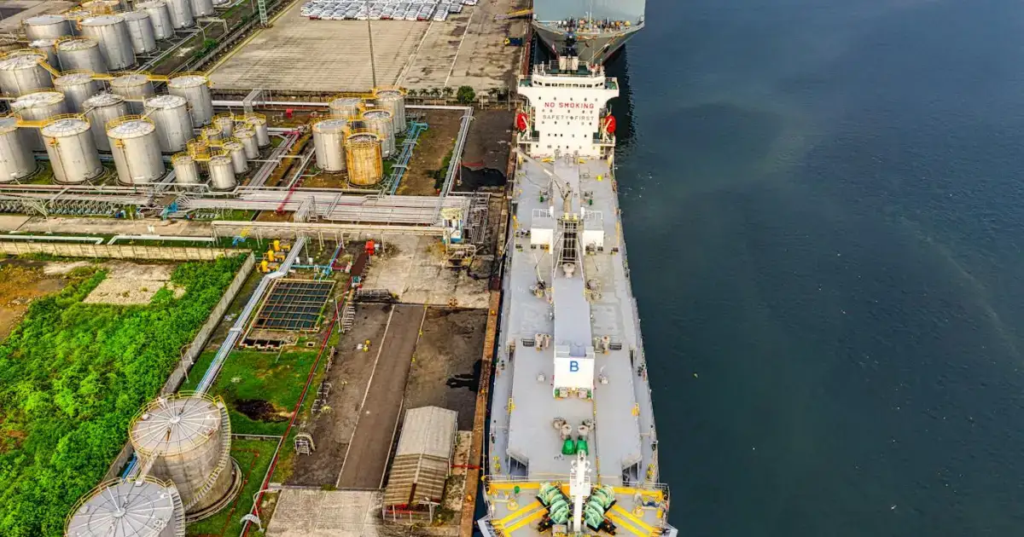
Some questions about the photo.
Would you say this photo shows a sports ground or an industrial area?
industrial area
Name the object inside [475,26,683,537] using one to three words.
ship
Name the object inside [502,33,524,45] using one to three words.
vehicle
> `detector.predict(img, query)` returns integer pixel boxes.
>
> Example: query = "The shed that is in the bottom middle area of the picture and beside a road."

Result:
[382,405,457,527]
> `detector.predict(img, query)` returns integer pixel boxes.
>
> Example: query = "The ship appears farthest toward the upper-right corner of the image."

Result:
[517,0,646,109]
